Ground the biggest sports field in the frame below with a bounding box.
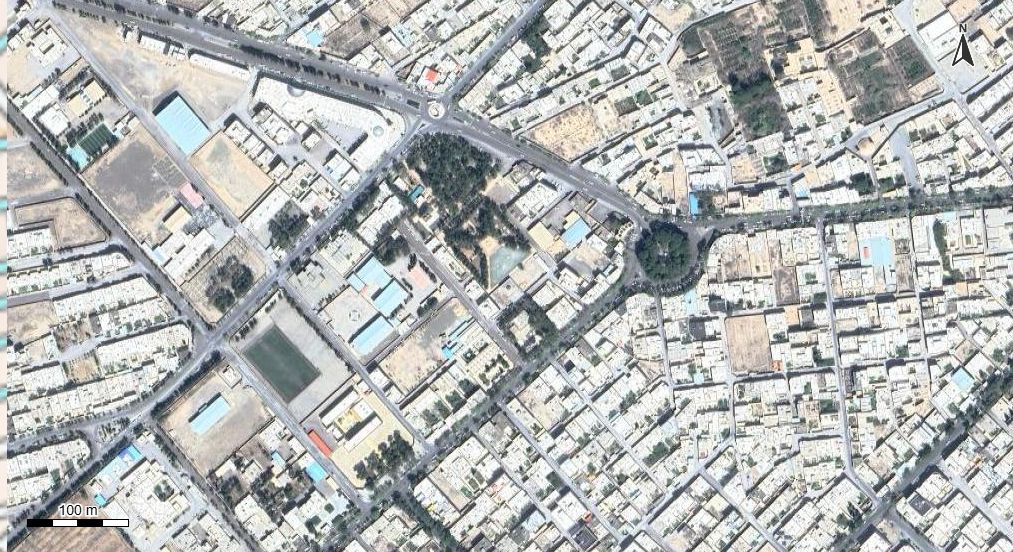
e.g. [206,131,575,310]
[230,289,351,428]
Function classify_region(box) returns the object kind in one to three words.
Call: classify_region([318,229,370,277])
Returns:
building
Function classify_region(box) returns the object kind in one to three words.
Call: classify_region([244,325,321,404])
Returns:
soccer field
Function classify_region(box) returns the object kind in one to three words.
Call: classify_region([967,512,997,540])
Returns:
house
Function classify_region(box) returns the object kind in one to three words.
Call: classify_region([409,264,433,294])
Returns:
sports court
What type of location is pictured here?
residential area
